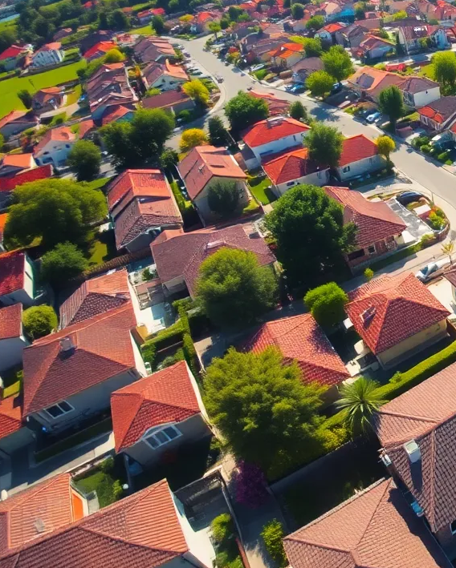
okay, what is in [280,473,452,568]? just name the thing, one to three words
house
